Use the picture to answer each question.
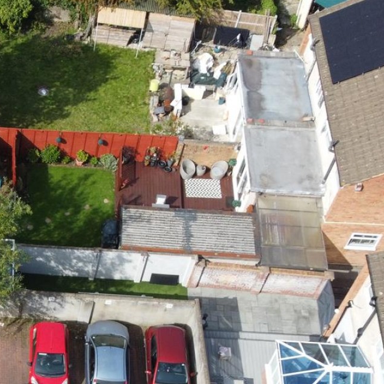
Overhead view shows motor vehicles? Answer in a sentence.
Yes, there is a motor vehicle in the image.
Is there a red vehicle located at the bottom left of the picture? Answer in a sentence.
Yes, the scene does show a red vehicle at the bottom left of the picture.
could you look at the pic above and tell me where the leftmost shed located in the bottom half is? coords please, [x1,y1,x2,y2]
[117,204,259,266]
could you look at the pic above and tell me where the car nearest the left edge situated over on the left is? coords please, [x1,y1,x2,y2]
[24,316,74,384]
